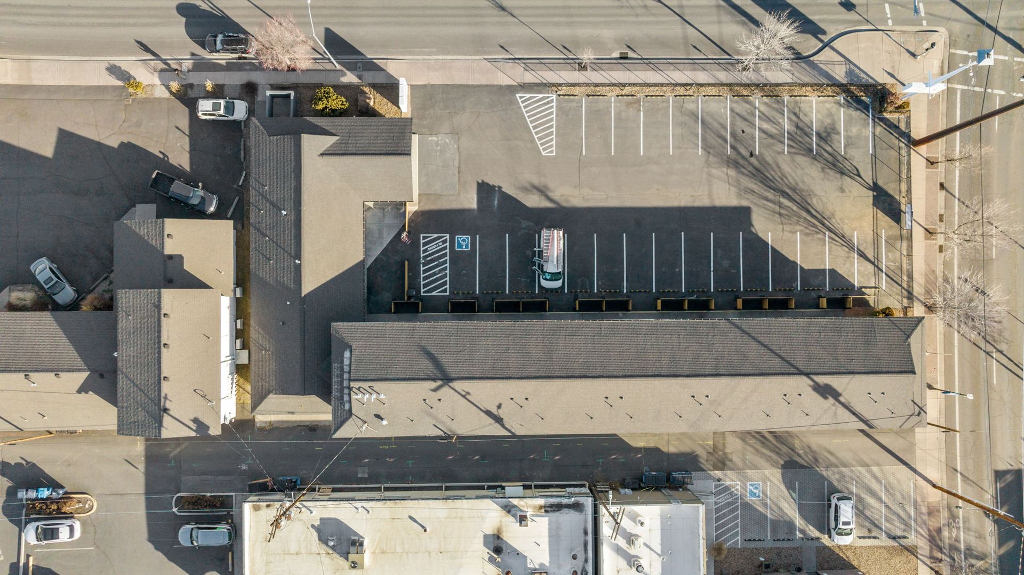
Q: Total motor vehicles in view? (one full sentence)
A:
In total, 8 motor vehicles can be seen.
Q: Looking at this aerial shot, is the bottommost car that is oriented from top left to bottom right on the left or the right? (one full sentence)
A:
The bottommost car that is oriented from top left to bottom right appears in the left half of the scene.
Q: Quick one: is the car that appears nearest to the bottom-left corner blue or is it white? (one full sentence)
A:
The car that appears nearest to the bottom-left corner is white.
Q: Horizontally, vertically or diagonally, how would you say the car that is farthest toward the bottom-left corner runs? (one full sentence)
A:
I'd say the car that is farthest toward the bottom-left corner is aligned horizontally in the picture.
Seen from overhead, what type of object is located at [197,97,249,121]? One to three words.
car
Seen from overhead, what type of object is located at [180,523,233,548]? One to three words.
car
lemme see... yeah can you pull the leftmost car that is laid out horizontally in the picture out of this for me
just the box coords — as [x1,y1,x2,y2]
[27,520,81,545]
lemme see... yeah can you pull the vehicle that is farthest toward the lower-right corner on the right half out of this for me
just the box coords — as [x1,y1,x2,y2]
[830,493,856,543]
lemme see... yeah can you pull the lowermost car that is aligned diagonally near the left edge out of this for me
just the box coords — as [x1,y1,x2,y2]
[32,257,75,306]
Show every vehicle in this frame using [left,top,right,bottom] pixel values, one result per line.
[32,257,75,306]
[27,520,81,545]
[149,169,218,213]
[197,97,249,121]
[531,229,565,288]
[205,30,257,56]
[180,523,233,548]
[830,493,856,543]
